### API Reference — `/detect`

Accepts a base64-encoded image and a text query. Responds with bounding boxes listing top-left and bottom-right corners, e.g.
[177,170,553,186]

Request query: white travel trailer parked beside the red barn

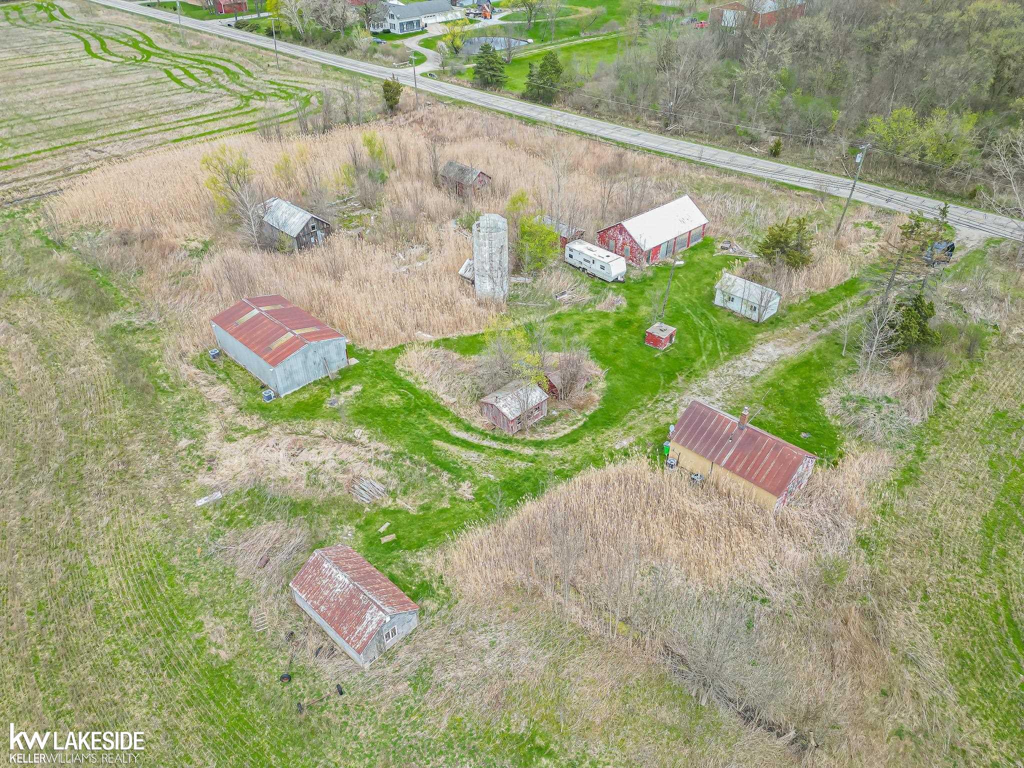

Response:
[565,241,624,287]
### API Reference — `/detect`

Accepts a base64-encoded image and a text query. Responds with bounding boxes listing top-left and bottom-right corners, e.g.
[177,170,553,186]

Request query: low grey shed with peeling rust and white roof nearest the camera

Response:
[290,546,419,669]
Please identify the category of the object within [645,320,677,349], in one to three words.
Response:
building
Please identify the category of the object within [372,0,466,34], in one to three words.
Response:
house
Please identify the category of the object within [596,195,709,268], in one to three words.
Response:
barn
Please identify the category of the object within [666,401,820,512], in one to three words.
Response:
house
